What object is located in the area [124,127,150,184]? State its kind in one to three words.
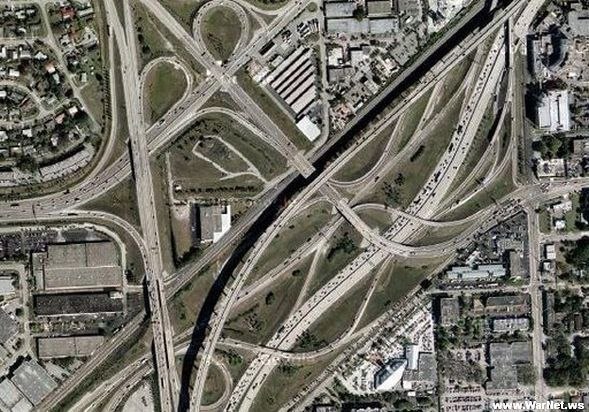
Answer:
overpass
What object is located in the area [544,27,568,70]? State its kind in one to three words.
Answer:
building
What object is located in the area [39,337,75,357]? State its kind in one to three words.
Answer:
building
